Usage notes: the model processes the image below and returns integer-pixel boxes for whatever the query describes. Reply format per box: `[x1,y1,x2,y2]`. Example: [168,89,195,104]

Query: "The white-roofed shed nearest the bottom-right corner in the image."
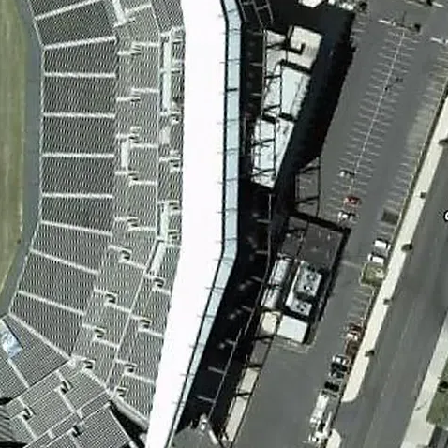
[277,316,309,343]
